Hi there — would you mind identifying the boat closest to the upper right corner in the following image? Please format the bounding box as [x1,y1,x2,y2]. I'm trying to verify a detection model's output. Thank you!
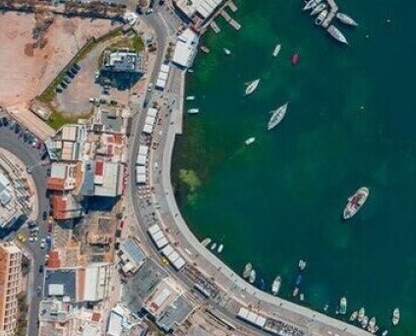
[335,13,356,25]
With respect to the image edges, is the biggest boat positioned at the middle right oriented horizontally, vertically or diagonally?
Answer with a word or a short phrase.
diagonally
